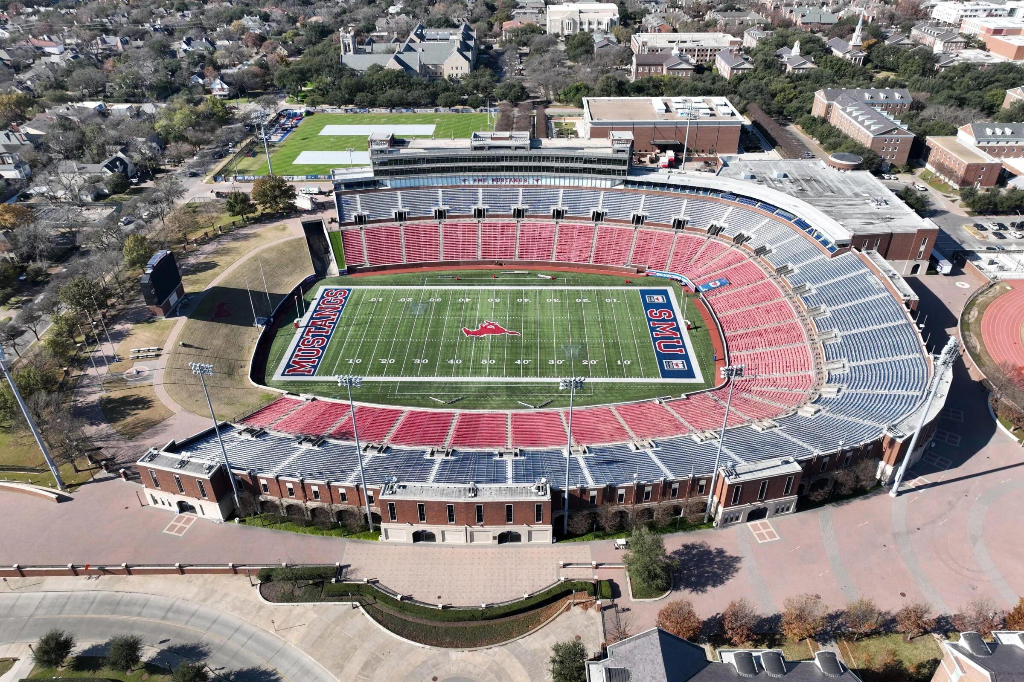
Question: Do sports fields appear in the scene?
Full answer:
Yes, there is a sports field in the image.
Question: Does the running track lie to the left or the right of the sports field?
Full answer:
In the image, the running track sits on the right side of the sports field.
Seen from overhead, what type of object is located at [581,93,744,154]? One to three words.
building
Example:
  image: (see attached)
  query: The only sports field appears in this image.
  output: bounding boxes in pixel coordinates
[264,270,717,419]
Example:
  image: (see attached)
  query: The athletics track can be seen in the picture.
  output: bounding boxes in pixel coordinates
[981,278,1024,388]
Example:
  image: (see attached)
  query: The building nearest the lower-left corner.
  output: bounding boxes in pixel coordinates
[136,447,233,521]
